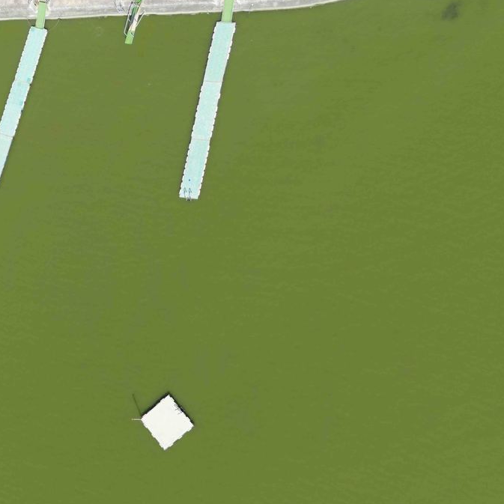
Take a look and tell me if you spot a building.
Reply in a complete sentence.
No, I find no building anywhere in the image.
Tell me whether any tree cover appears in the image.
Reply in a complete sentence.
No, tree cover can't be seen anywhere here.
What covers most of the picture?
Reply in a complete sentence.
Most of the picture is covered by water.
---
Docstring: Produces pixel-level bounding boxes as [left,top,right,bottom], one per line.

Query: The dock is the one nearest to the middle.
[180,22,236,201]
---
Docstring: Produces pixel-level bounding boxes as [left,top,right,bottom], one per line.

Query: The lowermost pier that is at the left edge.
[0,27,48,186]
